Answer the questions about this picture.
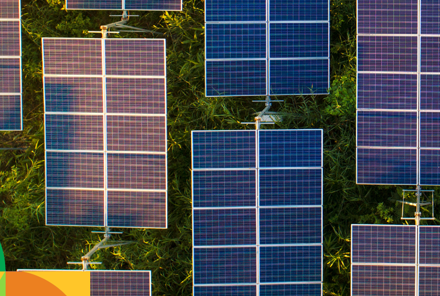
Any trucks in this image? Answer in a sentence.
No, there appears to be no truck in this shot.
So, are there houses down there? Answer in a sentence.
No, no house is visible in the view.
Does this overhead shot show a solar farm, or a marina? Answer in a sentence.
It's a solar farm.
